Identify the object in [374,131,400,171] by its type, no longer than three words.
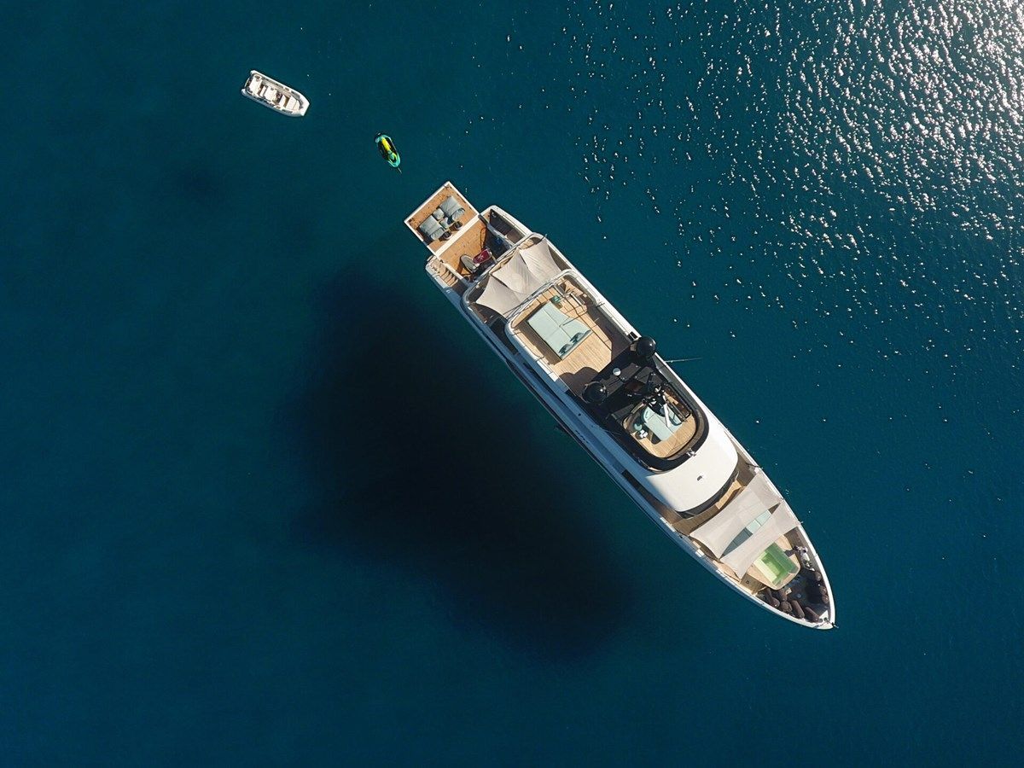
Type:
boat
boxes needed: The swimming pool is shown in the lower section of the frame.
[747,537,801,590]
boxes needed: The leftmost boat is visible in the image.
[239,71,308,116]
